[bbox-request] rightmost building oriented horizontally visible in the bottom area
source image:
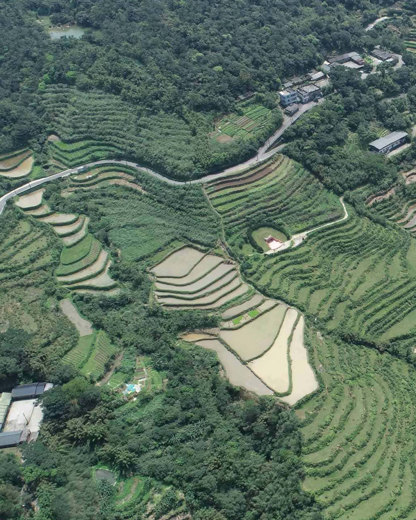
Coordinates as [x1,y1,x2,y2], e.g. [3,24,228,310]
[12,384,47,401]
